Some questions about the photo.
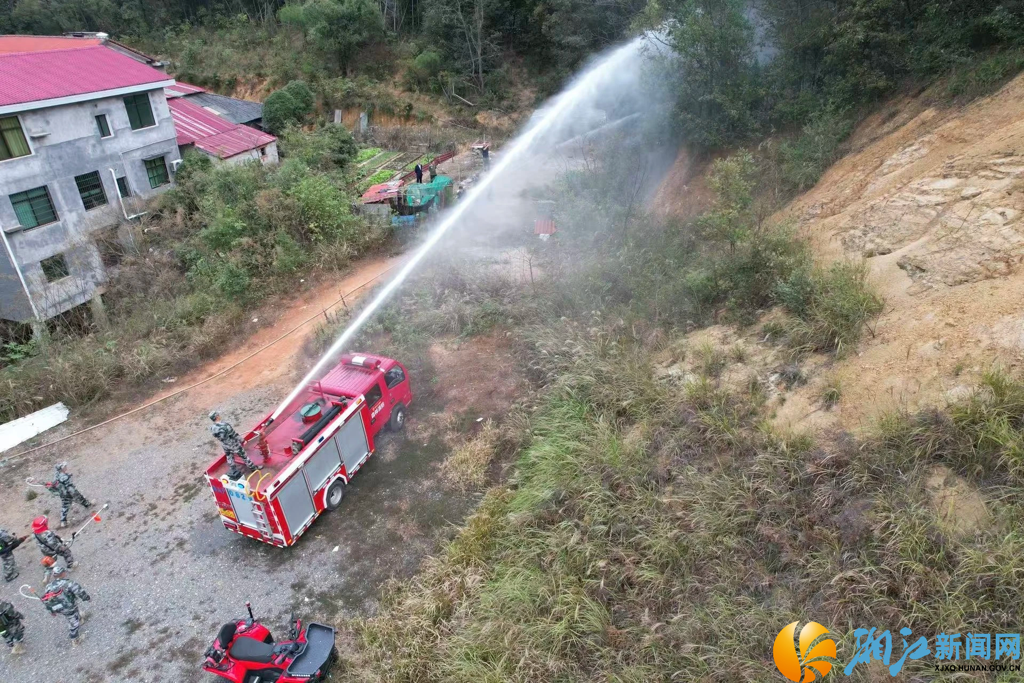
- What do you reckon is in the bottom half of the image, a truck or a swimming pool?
truck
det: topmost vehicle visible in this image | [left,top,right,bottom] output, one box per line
[208,354,412,549]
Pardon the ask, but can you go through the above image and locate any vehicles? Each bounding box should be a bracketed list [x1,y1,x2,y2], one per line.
[208,354,412,549]
[204,603,342,683]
